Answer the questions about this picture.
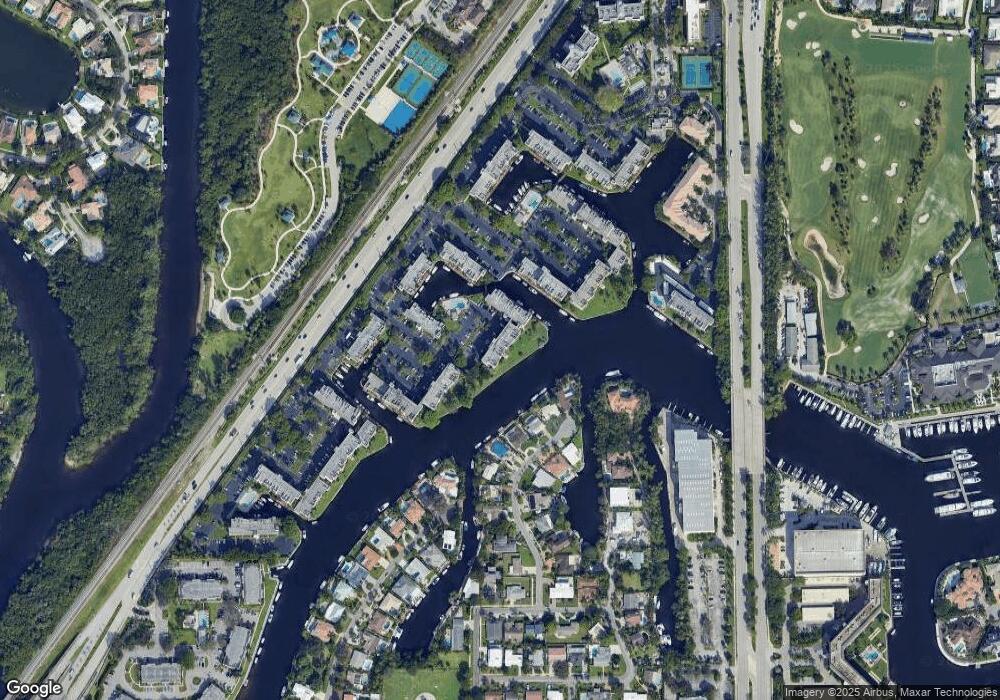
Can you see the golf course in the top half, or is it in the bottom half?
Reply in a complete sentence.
The golf course sits in the top half of the picture.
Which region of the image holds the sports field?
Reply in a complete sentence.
You can find the sports field in the right area of the picture.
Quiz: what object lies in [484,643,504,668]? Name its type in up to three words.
house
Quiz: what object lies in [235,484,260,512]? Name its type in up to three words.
swimming pool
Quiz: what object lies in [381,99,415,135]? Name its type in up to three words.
basketball court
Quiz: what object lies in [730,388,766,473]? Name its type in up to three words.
bridge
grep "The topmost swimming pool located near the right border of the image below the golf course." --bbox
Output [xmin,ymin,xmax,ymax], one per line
[941,574,958,593]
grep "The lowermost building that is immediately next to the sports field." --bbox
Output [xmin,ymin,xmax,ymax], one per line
[913,332,1000,405]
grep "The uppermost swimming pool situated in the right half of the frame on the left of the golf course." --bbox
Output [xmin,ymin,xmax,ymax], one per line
[599,60,628,87]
